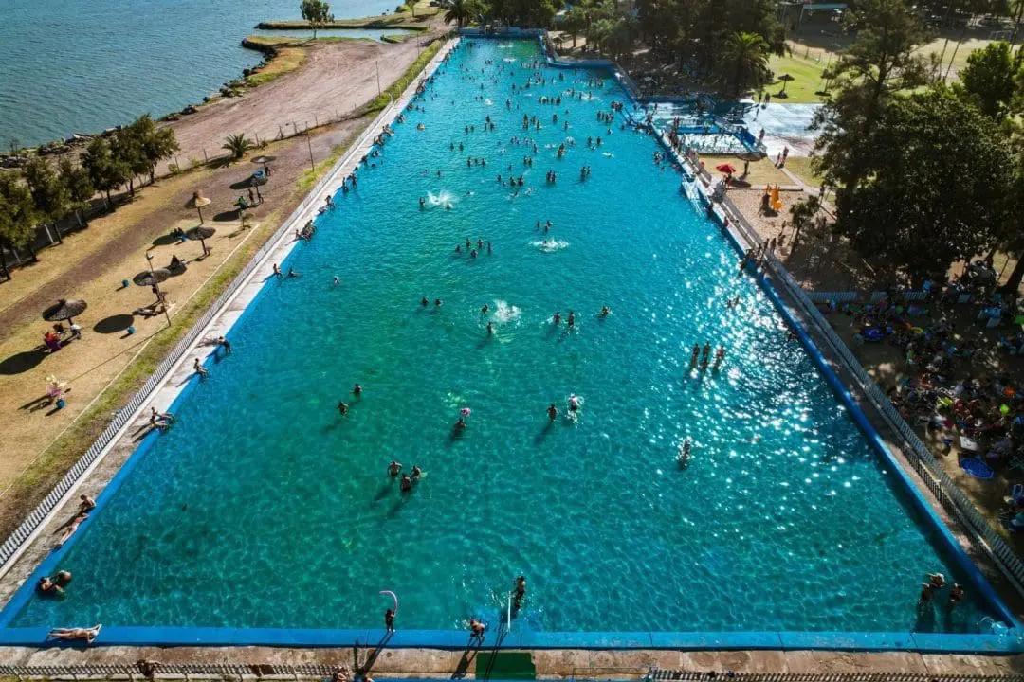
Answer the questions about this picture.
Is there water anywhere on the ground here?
Yes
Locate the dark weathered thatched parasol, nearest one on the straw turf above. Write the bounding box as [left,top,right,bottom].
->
[28,292,92,333]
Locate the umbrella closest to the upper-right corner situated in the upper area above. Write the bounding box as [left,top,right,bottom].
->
[814,67,839,90]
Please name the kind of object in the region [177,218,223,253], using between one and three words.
umbrella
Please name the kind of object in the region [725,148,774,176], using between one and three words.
umbrella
